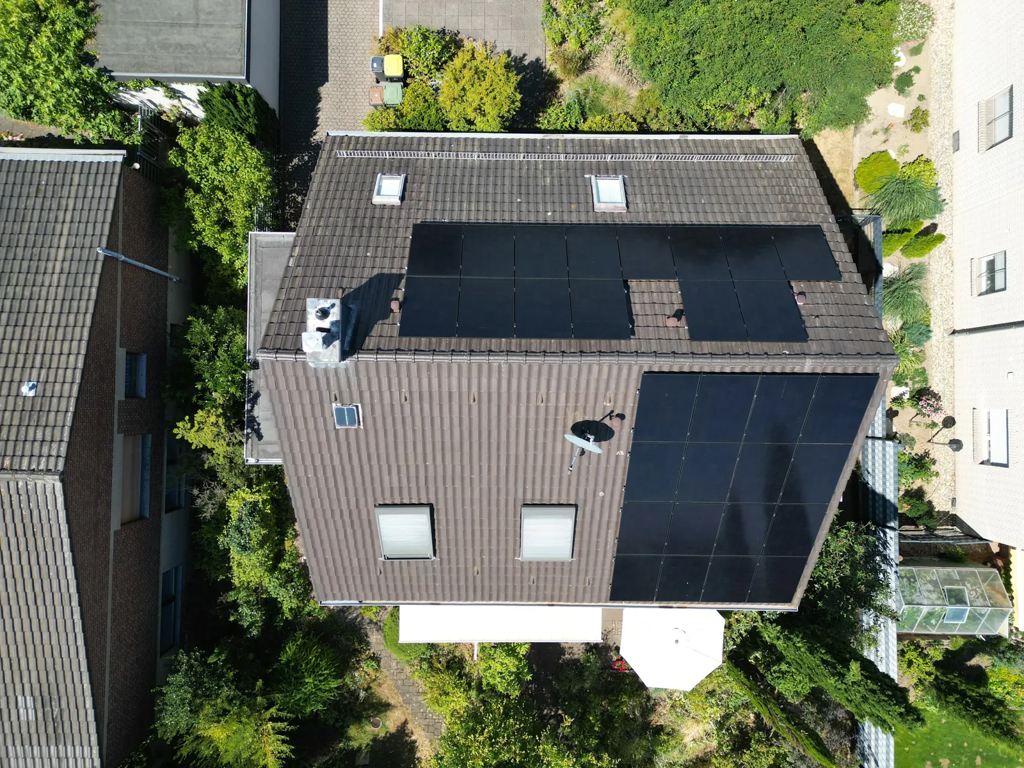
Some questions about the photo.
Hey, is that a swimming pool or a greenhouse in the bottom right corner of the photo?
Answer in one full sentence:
The one visible in the bottom right corner of the photo is a greenhouse.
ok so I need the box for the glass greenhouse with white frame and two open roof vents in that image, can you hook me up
[901,558,1011,635]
